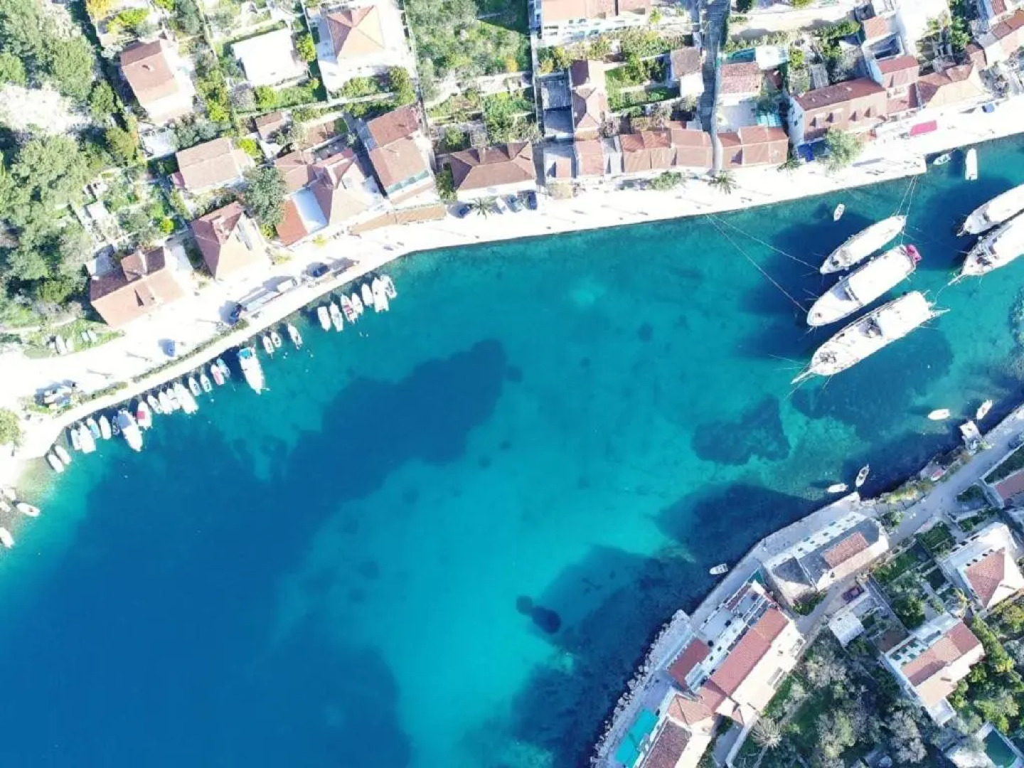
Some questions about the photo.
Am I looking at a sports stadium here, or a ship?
ship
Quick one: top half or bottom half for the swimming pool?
bottom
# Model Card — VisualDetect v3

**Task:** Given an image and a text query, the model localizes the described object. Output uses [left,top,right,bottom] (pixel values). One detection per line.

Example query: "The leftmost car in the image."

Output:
[164,338,176,357]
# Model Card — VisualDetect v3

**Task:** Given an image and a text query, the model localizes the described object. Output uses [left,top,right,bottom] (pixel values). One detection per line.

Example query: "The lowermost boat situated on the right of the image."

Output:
[709,562,727,574]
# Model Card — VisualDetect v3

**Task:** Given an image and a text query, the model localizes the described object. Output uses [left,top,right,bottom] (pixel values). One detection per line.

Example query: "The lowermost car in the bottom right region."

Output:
[843,584,863,602]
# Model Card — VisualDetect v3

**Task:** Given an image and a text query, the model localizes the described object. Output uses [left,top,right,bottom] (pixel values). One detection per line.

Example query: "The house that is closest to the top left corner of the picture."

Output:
[120,40,195,128]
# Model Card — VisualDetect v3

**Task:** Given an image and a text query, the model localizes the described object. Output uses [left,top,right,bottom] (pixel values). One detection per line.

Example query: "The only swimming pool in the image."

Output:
[978,722,1022,768]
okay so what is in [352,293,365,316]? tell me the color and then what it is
white boat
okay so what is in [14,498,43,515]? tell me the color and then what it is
white boat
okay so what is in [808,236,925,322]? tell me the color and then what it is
white ship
